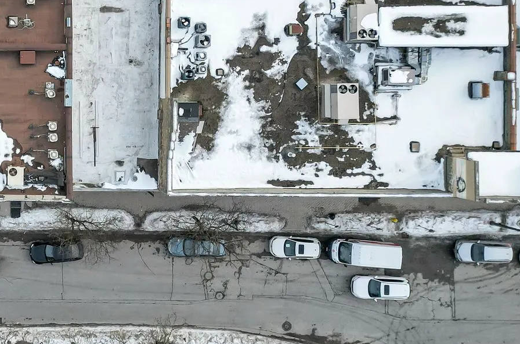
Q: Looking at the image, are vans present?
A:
Yes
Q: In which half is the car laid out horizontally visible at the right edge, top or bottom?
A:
bottom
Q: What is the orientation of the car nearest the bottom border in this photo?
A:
horizontally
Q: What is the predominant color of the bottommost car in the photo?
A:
white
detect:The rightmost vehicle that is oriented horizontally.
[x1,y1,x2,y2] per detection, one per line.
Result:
[451,238,515,266]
